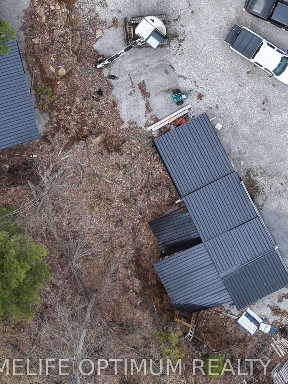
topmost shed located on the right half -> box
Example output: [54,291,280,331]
[153,113,237,197]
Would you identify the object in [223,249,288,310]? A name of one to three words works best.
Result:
shed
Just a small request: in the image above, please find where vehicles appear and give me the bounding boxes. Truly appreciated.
[228,26,288,80]
[97,18,166,66]
[243,0,288,30]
